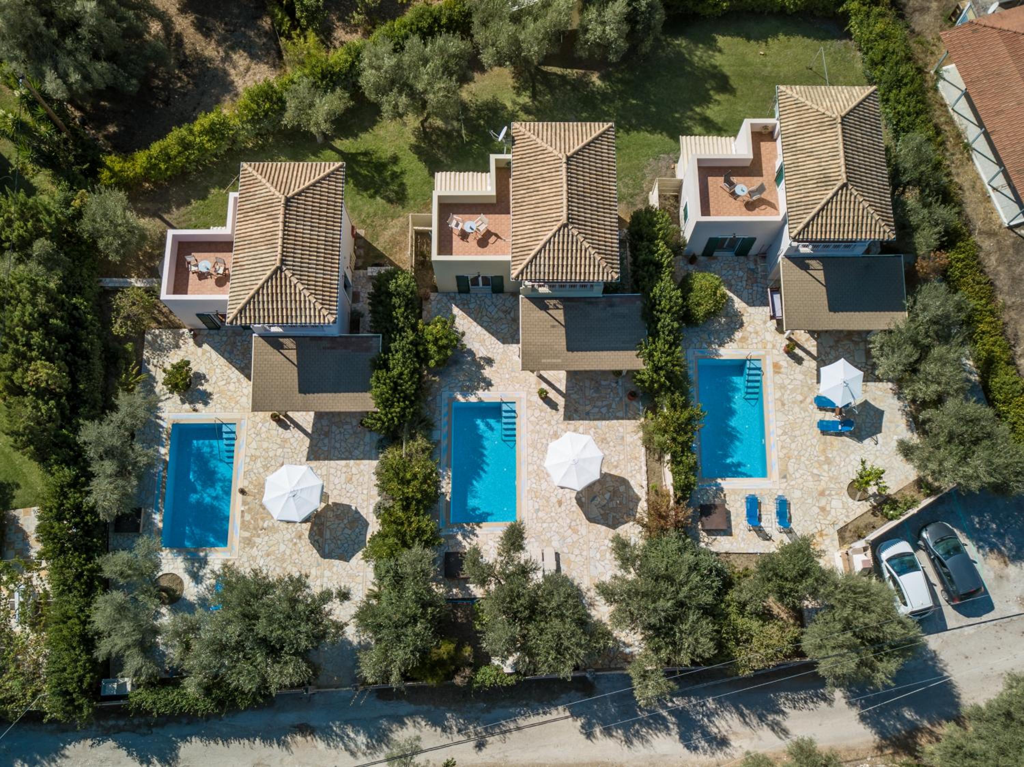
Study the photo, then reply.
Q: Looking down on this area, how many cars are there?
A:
2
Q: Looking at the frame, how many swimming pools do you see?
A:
3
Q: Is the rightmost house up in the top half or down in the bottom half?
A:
top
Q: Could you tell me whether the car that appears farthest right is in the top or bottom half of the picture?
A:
bottom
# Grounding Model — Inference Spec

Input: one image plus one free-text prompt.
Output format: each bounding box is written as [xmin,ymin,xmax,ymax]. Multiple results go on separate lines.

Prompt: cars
[920,519,986,607]
[877,536,937,622]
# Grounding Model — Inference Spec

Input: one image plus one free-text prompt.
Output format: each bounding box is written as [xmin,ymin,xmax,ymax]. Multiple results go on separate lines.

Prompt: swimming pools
[438,391,527,534]
[150,413,248,558]
[686,349,782,488]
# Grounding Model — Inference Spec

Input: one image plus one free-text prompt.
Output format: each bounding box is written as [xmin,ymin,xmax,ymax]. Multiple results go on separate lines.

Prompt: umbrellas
[816,361,860,436]
[264,467,325,527]
[544,434,603,493]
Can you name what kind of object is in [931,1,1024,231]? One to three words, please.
house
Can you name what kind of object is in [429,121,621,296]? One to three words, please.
house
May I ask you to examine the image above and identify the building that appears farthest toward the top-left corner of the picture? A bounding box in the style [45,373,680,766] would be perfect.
[161,159,358,337]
